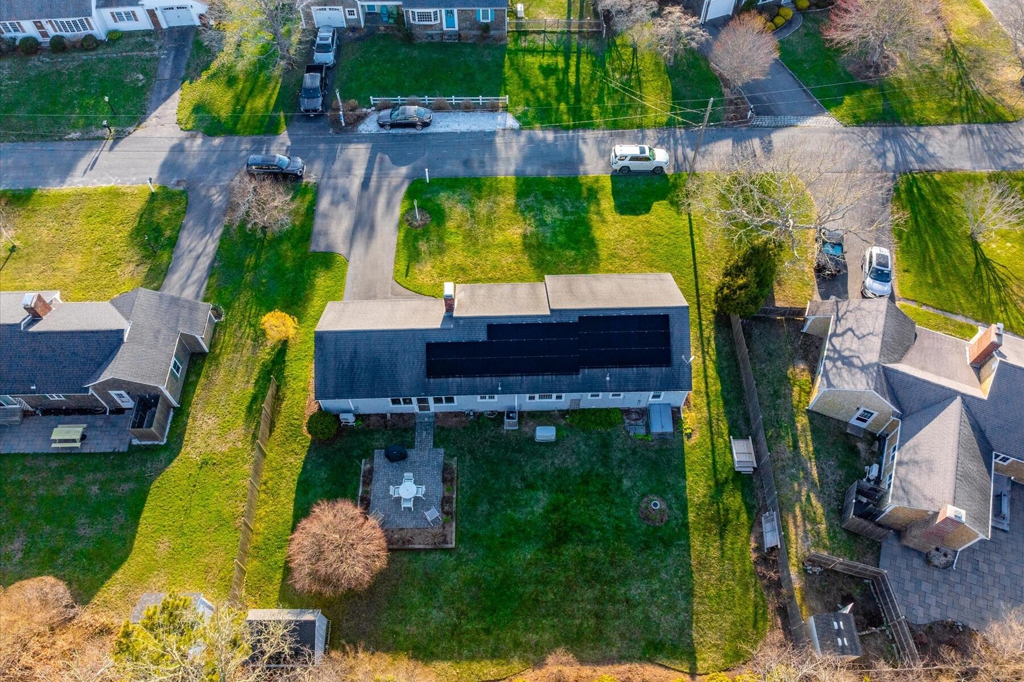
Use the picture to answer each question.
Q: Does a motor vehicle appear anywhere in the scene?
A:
Yes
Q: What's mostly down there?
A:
grass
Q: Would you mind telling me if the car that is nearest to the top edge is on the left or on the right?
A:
left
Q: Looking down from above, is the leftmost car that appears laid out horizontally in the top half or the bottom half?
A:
top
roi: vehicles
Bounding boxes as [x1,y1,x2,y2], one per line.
[242,149,306,180]
[297,67,330,113]
[856,242,902,297]
[375,105,432,130]
[610,144,670,174]
[311,27,339,67]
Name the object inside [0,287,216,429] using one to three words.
house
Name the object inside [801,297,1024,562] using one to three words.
house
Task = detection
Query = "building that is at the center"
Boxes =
[314,273,694,420]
